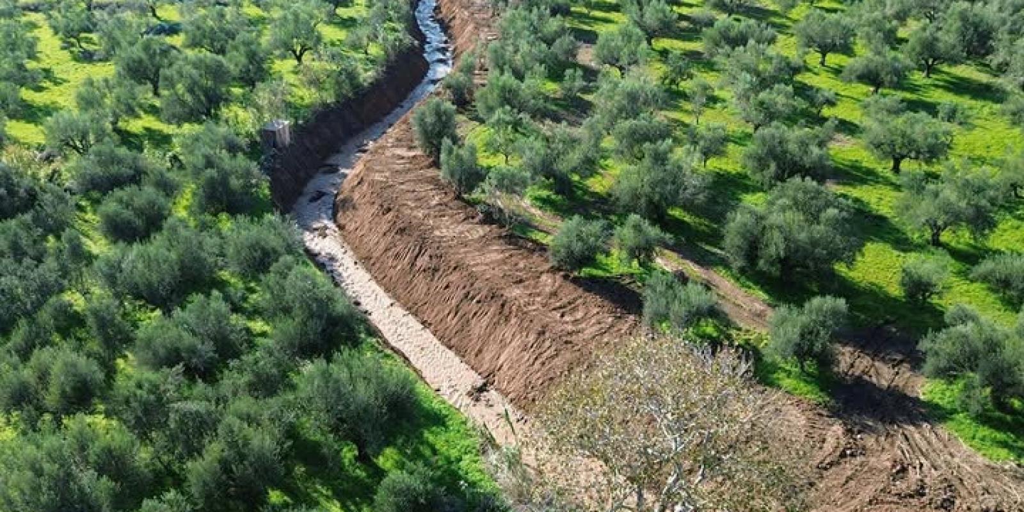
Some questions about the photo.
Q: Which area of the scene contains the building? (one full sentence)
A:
The building is located in the top left region of the scene.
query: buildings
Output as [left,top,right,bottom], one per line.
[263,116,290,151]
